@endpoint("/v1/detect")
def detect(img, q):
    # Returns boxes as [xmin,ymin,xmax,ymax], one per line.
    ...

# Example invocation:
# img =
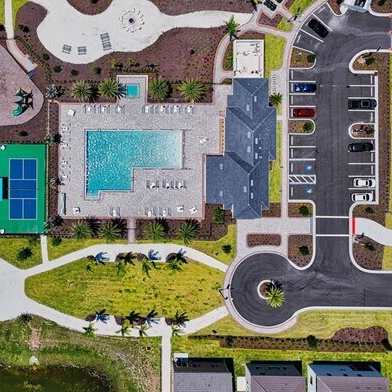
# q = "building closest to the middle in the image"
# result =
[205,78,277,219]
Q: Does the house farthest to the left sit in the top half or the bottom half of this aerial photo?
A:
bottom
